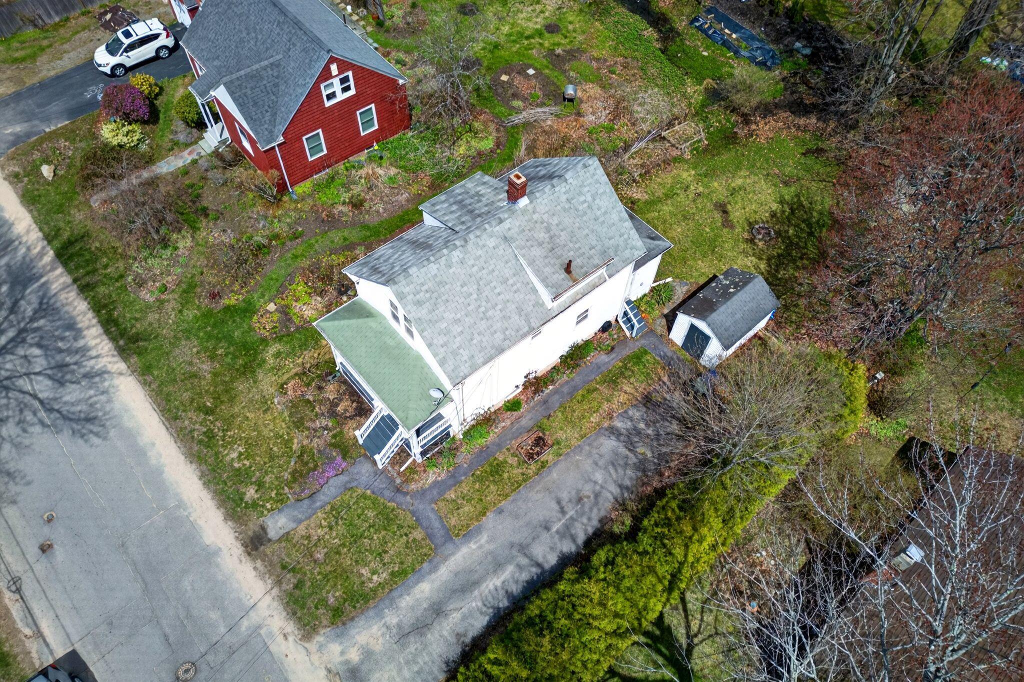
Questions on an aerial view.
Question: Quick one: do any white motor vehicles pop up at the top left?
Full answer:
Yes, I can see a white motor vehicle at the top left.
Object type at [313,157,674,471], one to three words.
house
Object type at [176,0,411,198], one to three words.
house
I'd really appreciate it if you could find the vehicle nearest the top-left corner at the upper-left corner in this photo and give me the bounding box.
[84,13,175,76]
